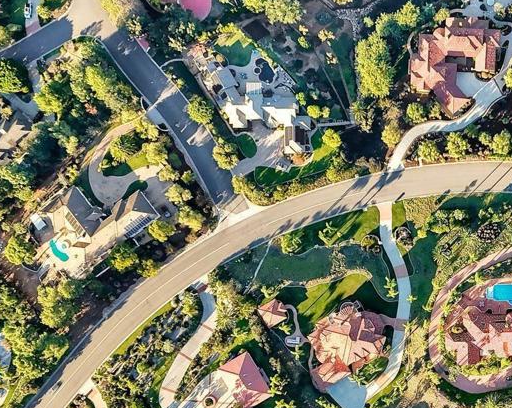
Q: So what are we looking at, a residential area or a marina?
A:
residential area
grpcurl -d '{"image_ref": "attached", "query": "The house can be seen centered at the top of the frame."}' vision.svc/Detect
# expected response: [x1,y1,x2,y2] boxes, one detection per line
[214,64,312,143]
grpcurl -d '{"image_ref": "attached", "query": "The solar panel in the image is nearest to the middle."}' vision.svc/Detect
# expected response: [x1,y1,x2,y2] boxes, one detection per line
[127,207,152,228]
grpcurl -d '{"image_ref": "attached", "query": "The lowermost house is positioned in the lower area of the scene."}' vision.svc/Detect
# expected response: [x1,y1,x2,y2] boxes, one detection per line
[219,351,273,408]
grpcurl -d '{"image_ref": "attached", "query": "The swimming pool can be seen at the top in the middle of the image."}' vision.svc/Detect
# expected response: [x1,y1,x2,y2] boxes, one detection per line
[254,56,275,84]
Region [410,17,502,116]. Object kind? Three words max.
house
